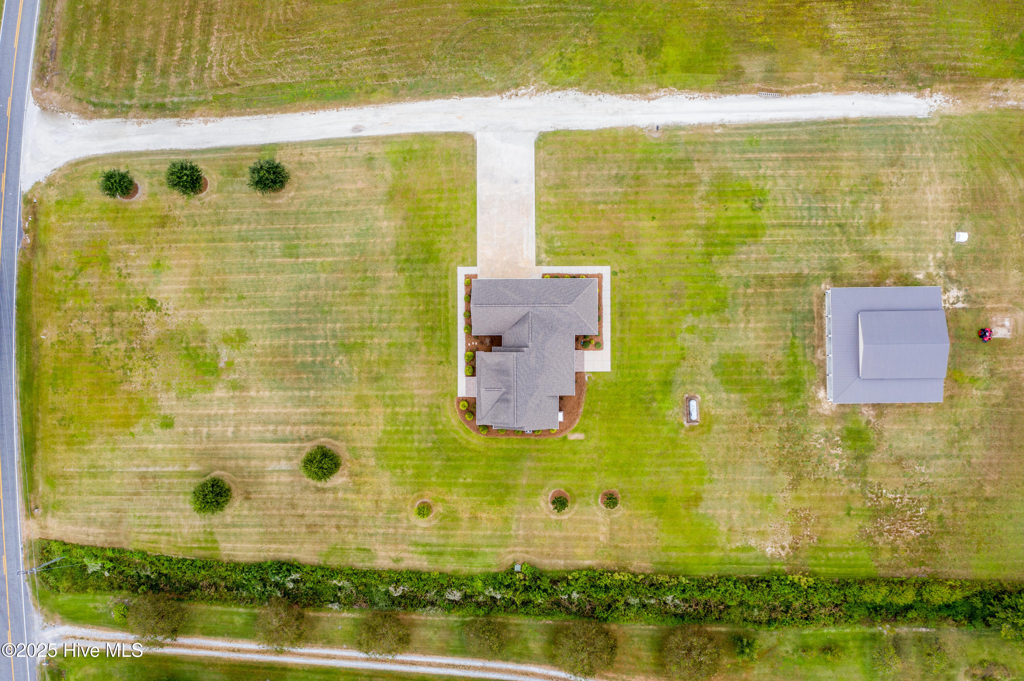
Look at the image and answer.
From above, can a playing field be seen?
No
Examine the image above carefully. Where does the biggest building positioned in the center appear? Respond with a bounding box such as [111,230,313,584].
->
[470,278,598,431]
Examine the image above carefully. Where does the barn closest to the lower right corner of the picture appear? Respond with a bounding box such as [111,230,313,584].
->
[824,286,950,404]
